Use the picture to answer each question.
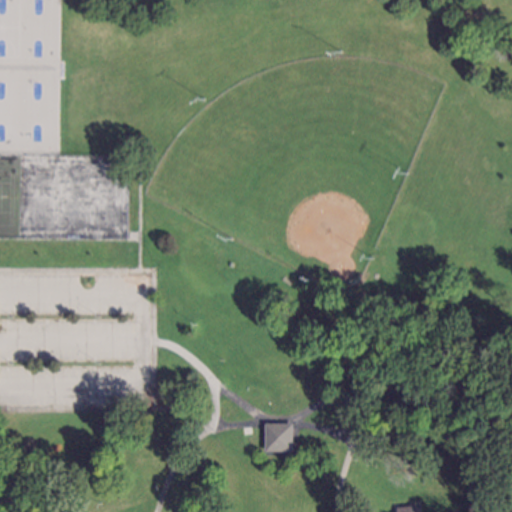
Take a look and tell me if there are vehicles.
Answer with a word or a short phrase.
No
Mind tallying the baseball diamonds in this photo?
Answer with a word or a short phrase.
1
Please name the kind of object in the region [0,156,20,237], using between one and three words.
tennis court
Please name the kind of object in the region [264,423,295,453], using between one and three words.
building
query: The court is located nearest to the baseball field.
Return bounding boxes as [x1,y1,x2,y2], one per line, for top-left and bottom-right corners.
[19,155,128,238]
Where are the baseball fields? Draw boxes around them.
[146,55,445,288]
